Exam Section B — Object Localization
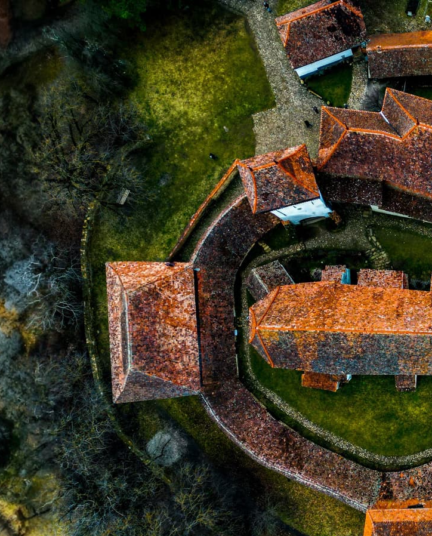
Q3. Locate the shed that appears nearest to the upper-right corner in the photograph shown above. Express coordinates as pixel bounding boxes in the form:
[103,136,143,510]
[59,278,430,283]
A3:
[367,31,432,85]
